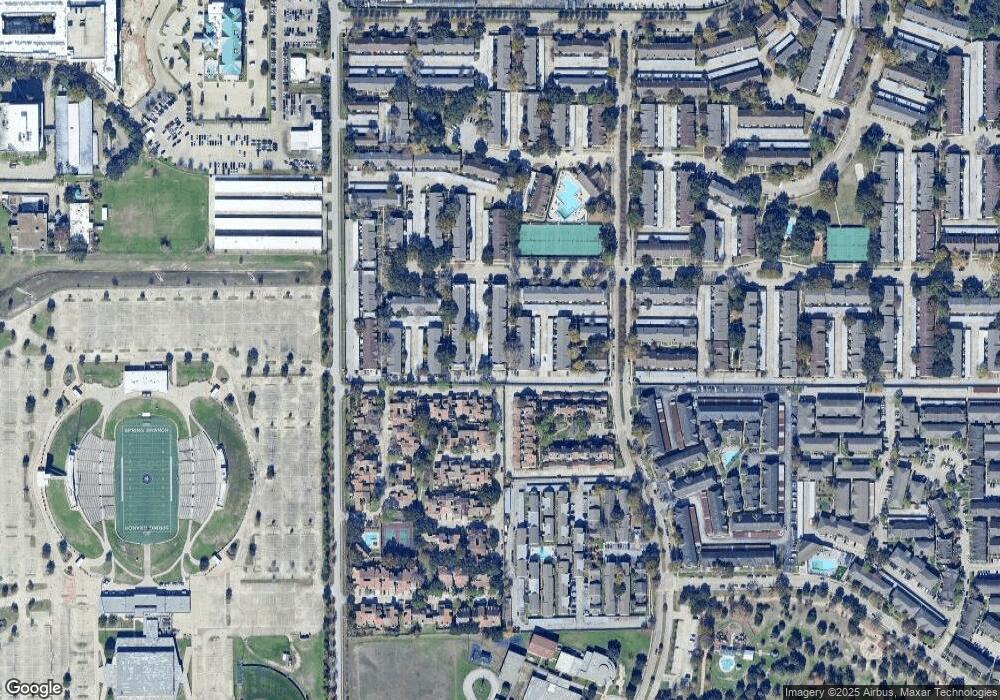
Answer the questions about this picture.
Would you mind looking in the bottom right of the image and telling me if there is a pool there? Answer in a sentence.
Yes, the scene does show a pool in the bottom right of the image.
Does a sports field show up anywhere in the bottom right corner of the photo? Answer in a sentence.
No, no sports field appears in the bottom right corner of the photo.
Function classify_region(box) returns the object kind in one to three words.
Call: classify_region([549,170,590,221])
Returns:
swimming pool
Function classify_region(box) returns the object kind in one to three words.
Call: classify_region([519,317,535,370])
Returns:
building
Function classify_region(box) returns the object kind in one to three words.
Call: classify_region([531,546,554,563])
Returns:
swimming pool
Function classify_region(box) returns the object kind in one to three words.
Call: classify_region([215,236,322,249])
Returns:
shed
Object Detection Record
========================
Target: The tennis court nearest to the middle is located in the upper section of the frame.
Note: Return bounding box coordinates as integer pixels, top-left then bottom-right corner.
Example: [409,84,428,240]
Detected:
[519,224,602,256]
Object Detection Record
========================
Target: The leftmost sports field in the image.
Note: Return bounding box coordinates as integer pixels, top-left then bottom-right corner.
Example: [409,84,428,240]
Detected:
[115,417,179,545]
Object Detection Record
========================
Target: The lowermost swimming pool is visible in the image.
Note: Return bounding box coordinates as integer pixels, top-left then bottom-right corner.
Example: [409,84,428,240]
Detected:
[719,656,735,672]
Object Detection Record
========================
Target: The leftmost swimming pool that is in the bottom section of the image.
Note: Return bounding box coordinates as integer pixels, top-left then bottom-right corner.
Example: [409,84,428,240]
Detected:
[363,531,379,549]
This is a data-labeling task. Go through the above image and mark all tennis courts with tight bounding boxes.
[382,523,413,557]
[826,226,868,262]
[519,224,602,256]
